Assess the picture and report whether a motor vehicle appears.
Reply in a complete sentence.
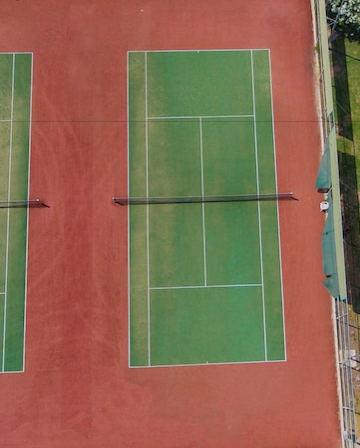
No, no motor vehicle is visible in the scene.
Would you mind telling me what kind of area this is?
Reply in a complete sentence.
The area seen from above is a sports ground.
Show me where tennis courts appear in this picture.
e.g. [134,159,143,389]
[113,49,292,367]
[0,53,42,372]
